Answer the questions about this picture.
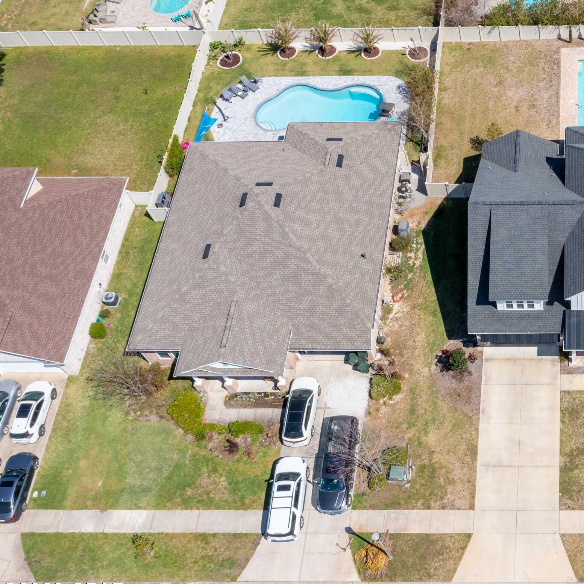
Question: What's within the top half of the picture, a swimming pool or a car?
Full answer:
What appears within the top half of the picture is a swimming pool.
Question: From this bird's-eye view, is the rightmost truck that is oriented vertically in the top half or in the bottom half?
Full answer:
It is in the bottom half that the rightmost truck that is oriented vertically appears.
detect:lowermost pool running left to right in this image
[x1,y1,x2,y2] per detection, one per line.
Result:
[252,82,388,133]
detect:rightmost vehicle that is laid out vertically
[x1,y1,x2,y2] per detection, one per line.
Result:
[312,422,356,513]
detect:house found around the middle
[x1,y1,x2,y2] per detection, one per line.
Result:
[131,120,404,391]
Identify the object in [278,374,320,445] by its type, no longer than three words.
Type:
car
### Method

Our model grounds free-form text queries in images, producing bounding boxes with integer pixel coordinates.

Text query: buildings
[131,120,404,391]
[467,125,584,366]
[0,166,130,376]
